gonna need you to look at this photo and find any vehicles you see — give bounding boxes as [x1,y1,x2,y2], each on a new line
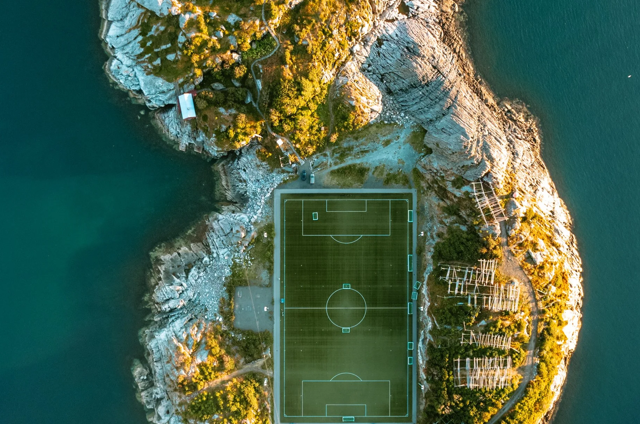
[301,170,307,180]
[310,173,315,184]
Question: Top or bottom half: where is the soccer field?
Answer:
bottom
